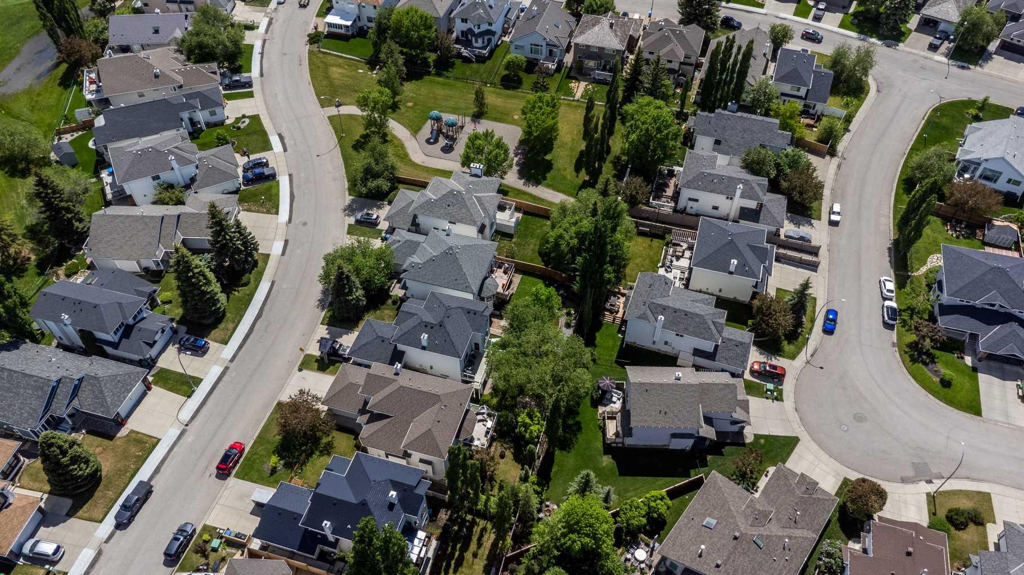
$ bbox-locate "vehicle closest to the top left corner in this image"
[221,73,251,88]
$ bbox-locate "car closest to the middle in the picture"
[352,210,382,224]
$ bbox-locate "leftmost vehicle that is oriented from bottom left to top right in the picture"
[111,478,152,526]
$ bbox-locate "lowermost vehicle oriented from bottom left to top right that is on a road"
[158,519,194,563]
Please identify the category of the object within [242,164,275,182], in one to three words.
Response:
vehicle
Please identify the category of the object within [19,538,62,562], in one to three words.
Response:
car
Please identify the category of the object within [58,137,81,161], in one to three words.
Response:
shed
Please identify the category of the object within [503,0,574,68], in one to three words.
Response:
house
